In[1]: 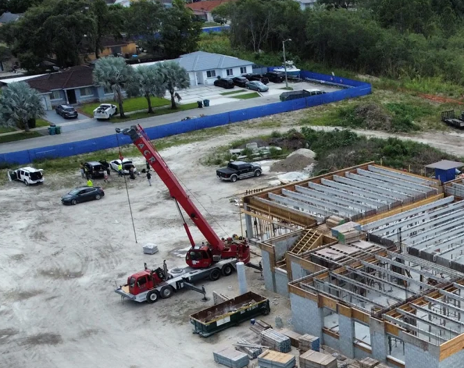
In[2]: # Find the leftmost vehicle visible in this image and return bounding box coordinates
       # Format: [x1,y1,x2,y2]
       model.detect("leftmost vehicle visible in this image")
[7,161,46,183]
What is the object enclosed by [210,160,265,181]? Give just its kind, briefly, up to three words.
truck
